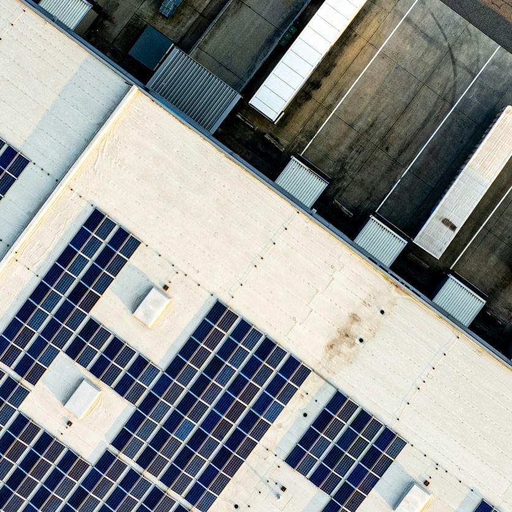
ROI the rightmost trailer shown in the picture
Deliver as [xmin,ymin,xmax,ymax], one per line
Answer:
[411,106,512,260]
